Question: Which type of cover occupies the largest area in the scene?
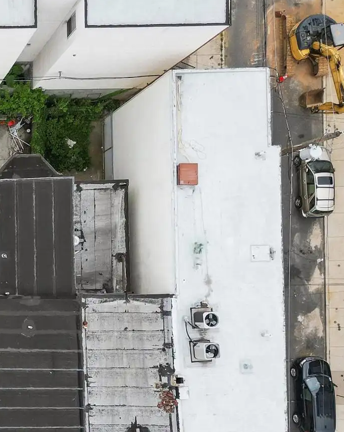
buildings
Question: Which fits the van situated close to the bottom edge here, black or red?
black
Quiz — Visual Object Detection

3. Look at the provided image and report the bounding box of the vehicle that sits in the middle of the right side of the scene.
[292,148,336,220]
